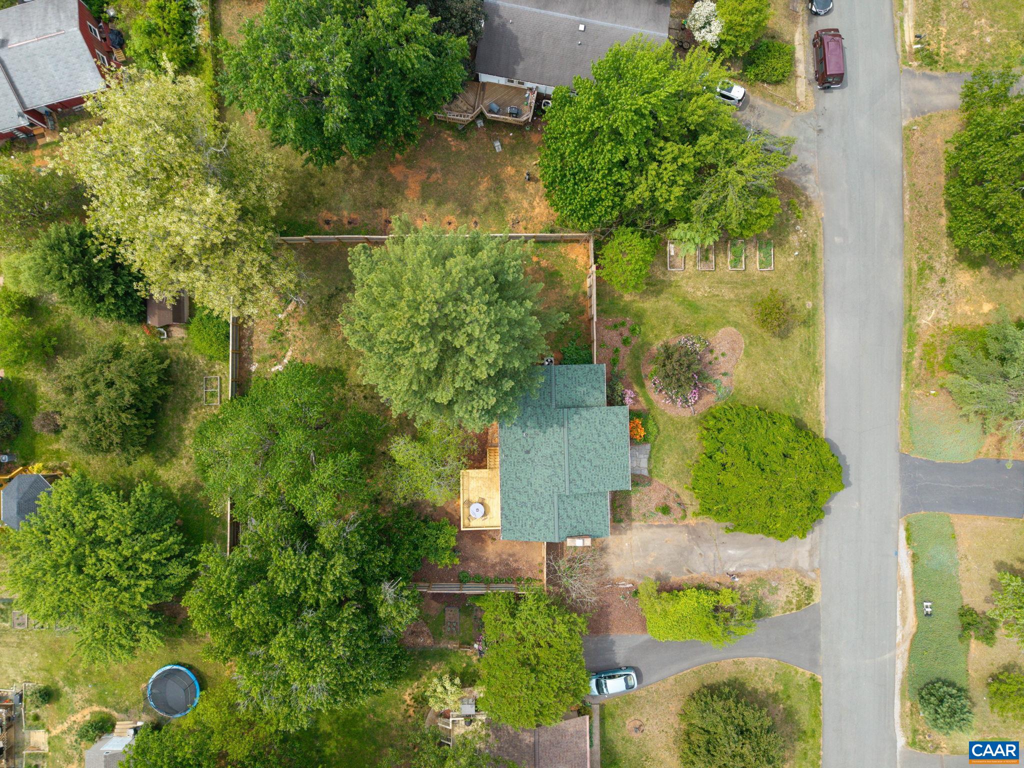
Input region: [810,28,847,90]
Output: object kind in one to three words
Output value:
car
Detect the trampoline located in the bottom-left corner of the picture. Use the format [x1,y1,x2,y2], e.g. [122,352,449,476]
[142,662,203,718]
